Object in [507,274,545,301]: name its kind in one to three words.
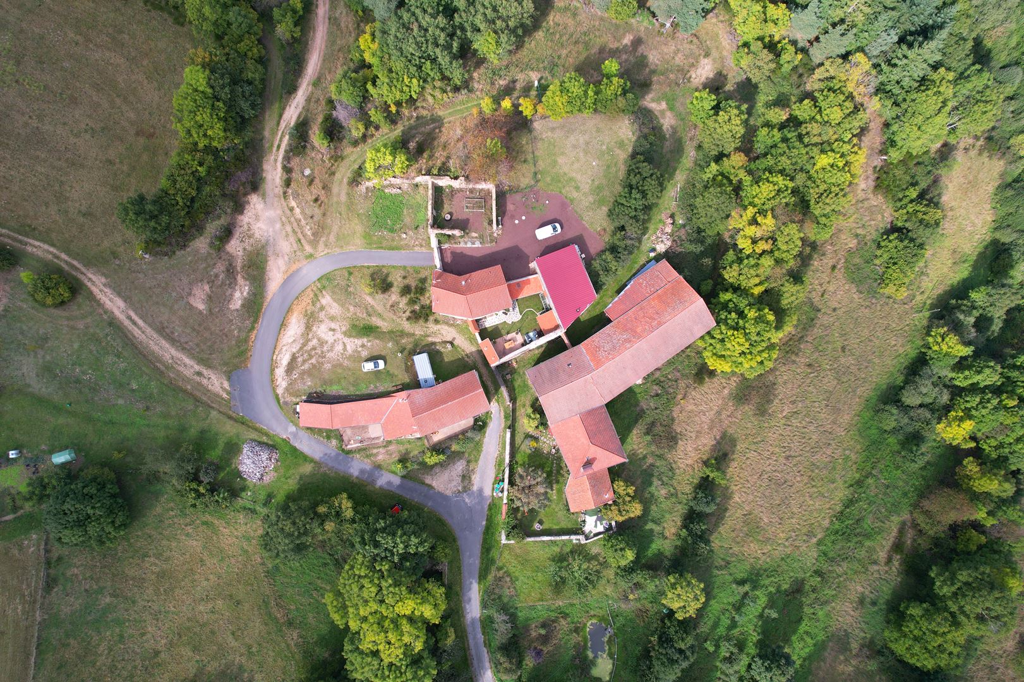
shed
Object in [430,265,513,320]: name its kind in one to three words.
house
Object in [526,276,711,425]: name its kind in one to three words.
barn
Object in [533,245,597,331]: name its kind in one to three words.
barn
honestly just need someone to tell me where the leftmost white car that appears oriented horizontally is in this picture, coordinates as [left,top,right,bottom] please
[362,359,385,371]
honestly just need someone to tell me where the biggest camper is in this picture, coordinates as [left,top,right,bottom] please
[413,349,435,386]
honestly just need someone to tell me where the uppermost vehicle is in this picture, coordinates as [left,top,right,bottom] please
[534,224,561,241]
